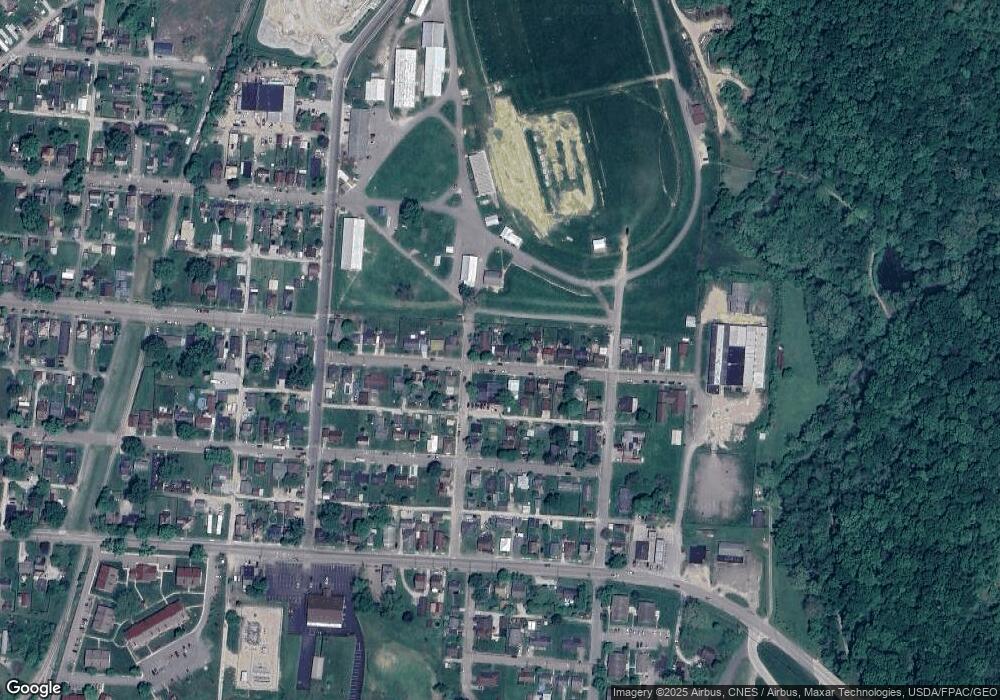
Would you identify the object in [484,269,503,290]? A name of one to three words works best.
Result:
house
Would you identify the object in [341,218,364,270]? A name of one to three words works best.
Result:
barn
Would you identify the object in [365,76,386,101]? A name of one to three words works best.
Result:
building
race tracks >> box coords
[601,0,693,272]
